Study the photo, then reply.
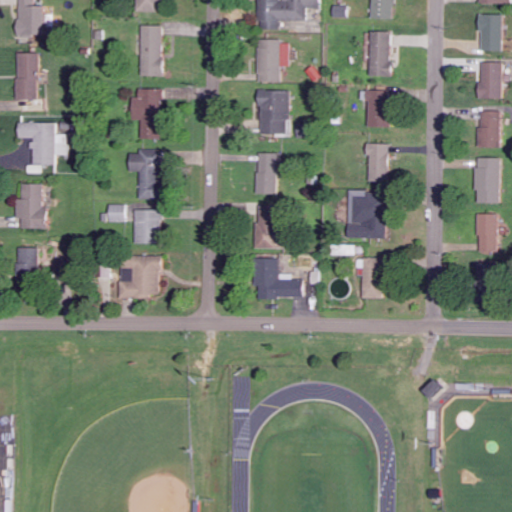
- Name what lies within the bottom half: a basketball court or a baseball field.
baseball field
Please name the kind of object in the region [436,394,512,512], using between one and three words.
baseball field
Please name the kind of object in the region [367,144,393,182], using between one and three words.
house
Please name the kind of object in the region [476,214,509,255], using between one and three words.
house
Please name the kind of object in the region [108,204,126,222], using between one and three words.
shed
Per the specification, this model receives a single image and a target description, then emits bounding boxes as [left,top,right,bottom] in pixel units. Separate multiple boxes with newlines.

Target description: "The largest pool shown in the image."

[330,276,350,300]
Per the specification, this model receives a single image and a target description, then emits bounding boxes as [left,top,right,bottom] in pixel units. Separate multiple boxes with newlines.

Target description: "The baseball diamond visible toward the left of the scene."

[52,397,194,512]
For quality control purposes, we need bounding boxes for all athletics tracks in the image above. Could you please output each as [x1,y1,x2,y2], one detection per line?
[232,376,397,512]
